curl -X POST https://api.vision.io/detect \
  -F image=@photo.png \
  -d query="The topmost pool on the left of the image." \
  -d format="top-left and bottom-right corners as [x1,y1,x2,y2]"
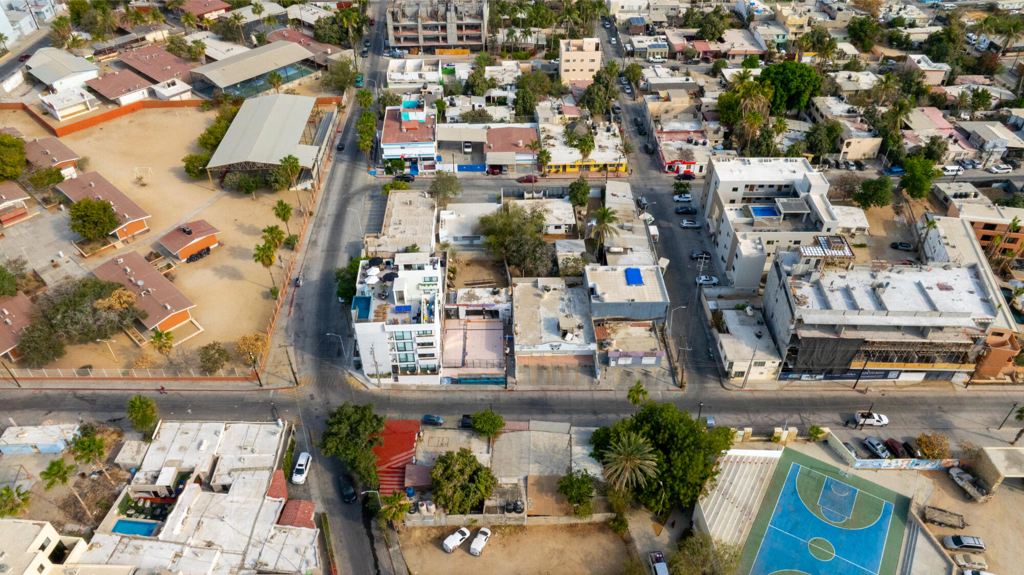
[354,298,370,320]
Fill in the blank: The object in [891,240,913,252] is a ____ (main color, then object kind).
black vehicle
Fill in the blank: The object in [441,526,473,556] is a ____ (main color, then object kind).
white truck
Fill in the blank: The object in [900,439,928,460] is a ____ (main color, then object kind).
black car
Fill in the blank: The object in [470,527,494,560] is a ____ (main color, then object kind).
white truck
